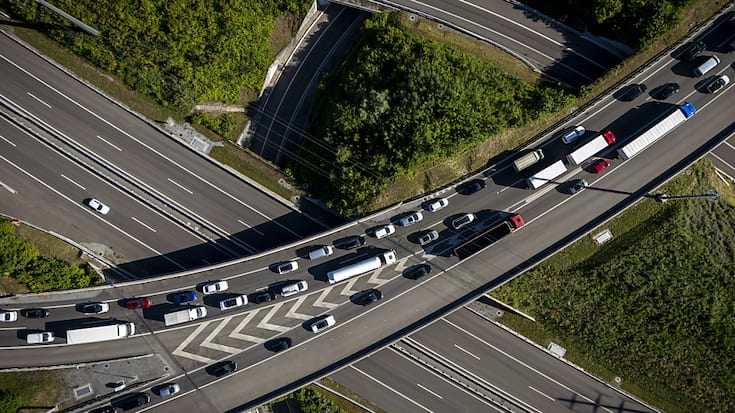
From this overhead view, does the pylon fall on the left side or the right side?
left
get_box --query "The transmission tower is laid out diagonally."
[40,0,103,38]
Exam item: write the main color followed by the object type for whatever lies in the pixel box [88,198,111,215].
white car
